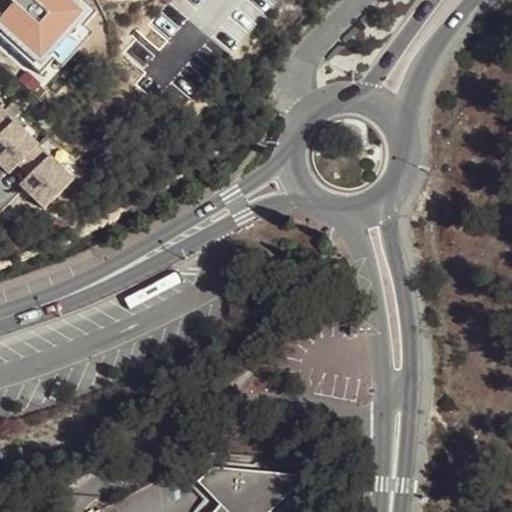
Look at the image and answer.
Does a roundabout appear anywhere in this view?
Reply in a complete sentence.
Yes, the frame does contain a roundabout.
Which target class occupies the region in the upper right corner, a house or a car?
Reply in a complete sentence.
You can see a car in the upper right corner.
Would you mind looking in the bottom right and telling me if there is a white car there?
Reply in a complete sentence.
No, there's no white car to be seen in the bottom right.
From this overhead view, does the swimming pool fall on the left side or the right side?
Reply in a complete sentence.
The swimming pool is on the left side of the image.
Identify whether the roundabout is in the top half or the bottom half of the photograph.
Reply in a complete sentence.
Seen from above, the roundabout lies in the top half of the view.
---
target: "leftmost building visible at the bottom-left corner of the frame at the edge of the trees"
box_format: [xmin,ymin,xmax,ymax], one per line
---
[70,474,102,512]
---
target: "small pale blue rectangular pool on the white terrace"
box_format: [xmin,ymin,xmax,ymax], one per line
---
[55,36,78,60]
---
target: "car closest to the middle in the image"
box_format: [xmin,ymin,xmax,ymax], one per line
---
[195,202,216,218]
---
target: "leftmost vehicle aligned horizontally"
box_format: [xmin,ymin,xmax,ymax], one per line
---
[16,310,42,324]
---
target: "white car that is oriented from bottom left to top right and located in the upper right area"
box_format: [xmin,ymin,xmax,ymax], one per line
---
[446,9,464,28]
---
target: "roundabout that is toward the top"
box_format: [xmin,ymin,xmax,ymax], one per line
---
[256,80,422,259]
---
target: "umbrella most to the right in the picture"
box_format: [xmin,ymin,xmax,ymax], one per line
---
[55,149,68,162]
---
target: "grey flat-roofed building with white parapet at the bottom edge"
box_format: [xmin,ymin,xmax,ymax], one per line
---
[200,468,291,512]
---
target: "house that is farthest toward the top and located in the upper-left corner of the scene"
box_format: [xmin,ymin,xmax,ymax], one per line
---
[0,0,92,62]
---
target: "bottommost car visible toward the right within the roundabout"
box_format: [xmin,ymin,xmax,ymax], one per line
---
[338,84,362,101]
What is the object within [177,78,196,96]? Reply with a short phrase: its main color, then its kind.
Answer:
white car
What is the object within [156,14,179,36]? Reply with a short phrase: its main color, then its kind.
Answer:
white vehicle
